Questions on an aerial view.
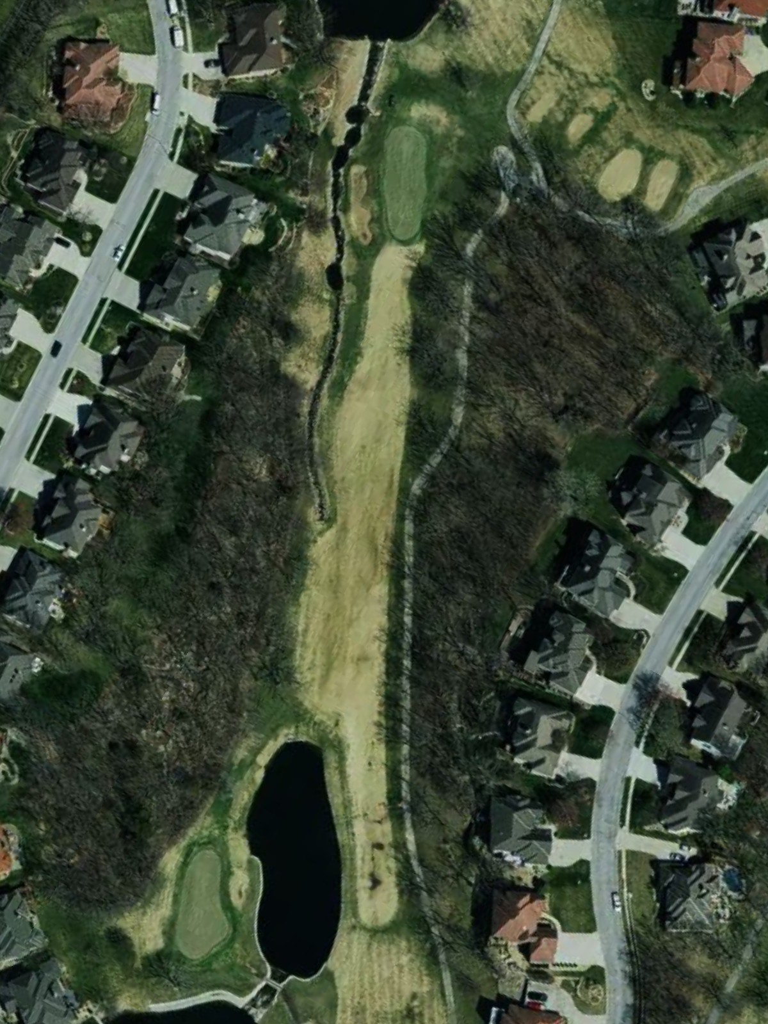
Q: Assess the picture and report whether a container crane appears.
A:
No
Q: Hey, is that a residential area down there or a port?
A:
residential area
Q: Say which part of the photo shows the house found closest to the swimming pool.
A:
bottom right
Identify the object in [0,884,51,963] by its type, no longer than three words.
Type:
house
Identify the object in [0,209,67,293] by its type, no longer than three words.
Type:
house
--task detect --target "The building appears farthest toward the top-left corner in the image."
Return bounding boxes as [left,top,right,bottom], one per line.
[59,38,125,118]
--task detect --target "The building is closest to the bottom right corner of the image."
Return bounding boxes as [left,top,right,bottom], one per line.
[656,854,726,935]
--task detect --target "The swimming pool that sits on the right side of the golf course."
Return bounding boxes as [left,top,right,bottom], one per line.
[723,868,741,893]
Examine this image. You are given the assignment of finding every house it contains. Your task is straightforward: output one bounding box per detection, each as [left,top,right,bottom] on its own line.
[656,854,726,935]
[521,609,597,696]
[0,281,24,359]
[563,529,635,624]
[0,635,45,712]
[59,38,125,118]
[0,884,51,963]
[68,404,150,480]
[180,177,255,261]
[219,3,286,78]
[491,796,551,864]
[0,209,67,293]
[139,254,222,333]
[715,601,768,682]
[668,393,742,481]
[39,474,112,561]
[0,549,68,632]
[712,0,768,16]
[104,325,189,403]
[701,223,768,305]
[685,677,751,757]
[213,94,291,168]
[493,1007,566,1024]
[490,883,558,966]
[685,22,755,97]
[506,698,573,778]
[657,756,726,838]
[0,953,85,1024]
[22,130,87,215]
[622,462,694,549]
